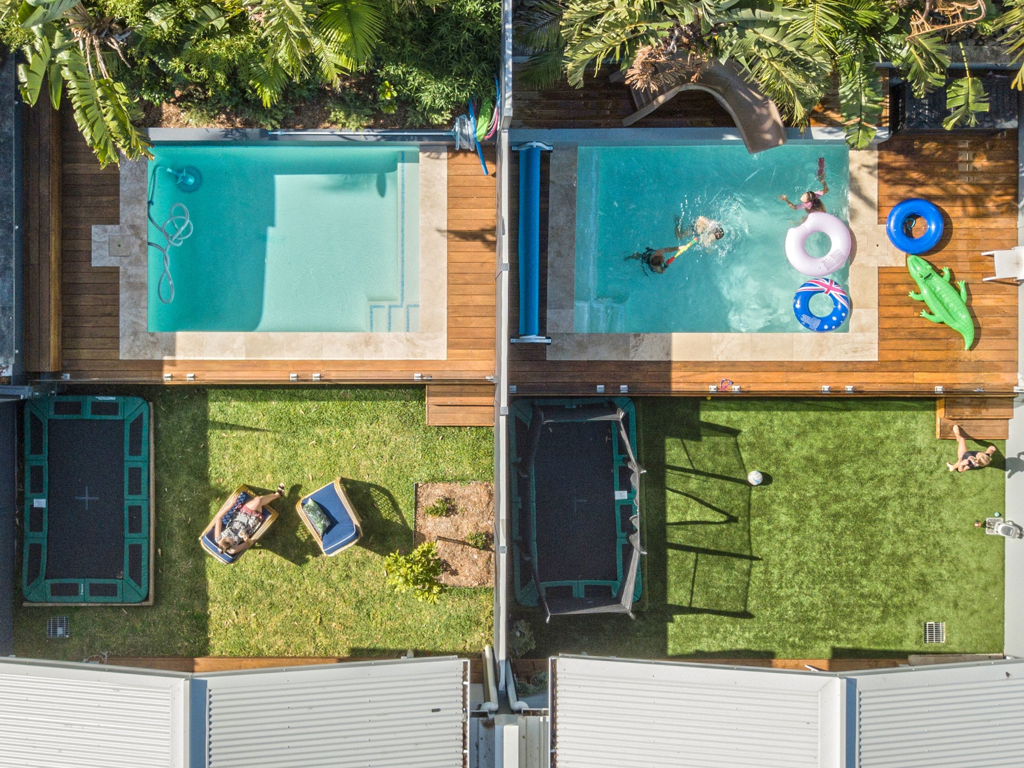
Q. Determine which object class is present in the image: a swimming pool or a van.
swimming pool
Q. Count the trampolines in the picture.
2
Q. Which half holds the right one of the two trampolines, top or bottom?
bottom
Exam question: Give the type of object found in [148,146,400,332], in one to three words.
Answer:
swimming pool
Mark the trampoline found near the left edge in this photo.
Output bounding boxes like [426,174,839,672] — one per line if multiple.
[21,396,159,609]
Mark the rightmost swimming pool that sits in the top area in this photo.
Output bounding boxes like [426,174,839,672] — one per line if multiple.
[583,146,848,332]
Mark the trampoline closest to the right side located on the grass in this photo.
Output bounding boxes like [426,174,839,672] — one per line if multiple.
[513,397,649,624]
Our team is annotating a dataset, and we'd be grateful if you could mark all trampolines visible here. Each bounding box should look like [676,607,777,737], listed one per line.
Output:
[21,396,159,609]
[513,397,649,624]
